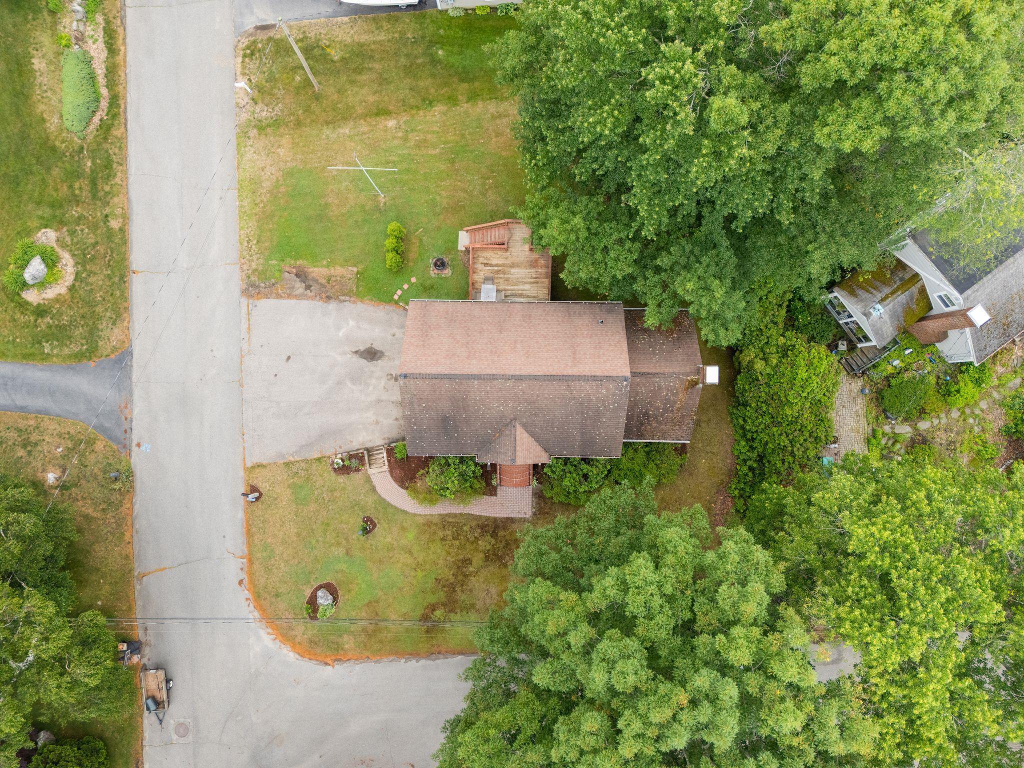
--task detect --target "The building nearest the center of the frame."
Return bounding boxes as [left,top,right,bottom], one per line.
[400,298,717,467]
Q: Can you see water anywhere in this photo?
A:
No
